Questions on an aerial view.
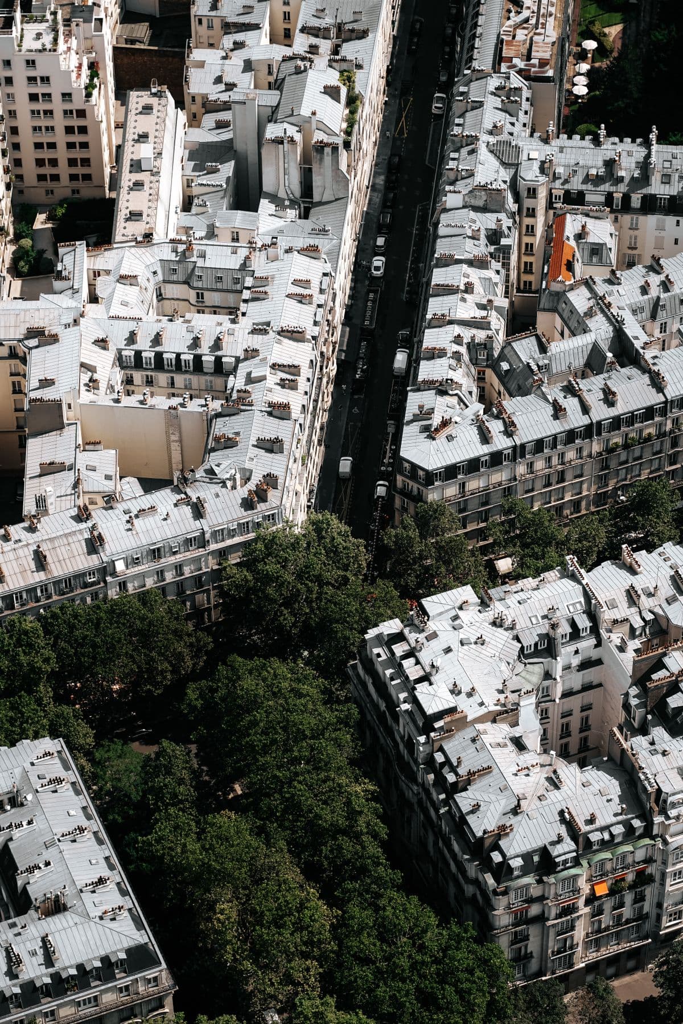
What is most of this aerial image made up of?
buildings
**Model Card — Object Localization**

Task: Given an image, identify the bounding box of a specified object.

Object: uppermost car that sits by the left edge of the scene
[11,482,25,501]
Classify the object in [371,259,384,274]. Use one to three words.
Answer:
vehicle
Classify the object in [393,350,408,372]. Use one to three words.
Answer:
vehicle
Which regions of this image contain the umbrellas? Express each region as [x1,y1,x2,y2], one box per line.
[572,88,587,96]
[575,66,590,73]
[582,42,596,50]
[573,78,588,88]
